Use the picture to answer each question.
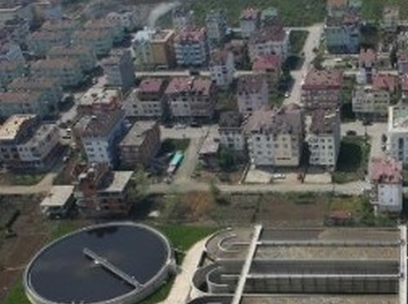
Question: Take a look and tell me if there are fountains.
No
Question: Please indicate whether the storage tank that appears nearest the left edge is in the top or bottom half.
bottom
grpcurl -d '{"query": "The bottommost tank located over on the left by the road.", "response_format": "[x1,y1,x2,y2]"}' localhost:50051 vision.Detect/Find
[24,221,178,304]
